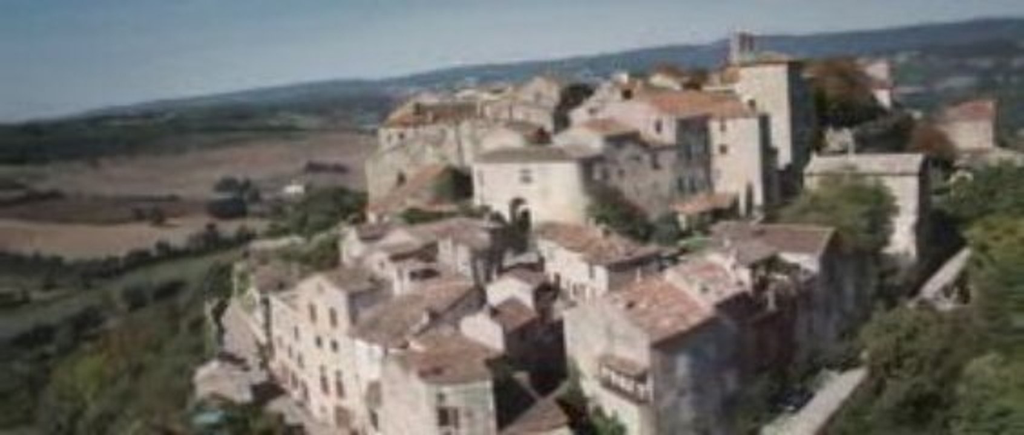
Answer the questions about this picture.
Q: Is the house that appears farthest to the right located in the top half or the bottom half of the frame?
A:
top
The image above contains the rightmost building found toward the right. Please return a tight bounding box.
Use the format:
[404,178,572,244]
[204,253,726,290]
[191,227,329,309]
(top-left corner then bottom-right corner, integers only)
[943,106,998,147]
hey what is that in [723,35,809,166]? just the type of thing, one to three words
building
